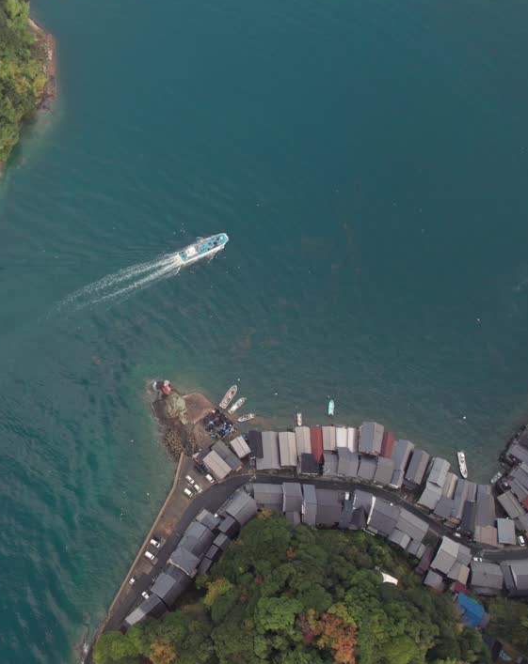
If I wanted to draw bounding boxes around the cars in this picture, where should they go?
[453,531,462,539]
[516,535,527,548]
[140,590,152,601]
[143,550,155,562]
[194,483,202,492]
[205,472,215,484]
[182,488,194,498]
[185,475,195,484]
[128,577,135,586]
[472,556,483,563]
[149,538,161,549]
[196,464,208,474]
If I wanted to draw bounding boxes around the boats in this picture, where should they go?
[227,397,247,416]
[456,451,466,479]
[176,232,229,263]
[296,411,302,427]
[219,384,238,410]
[238,413,255,422]
[489,471,503,484]
[328,400,334,417]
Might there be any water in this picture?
Yes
